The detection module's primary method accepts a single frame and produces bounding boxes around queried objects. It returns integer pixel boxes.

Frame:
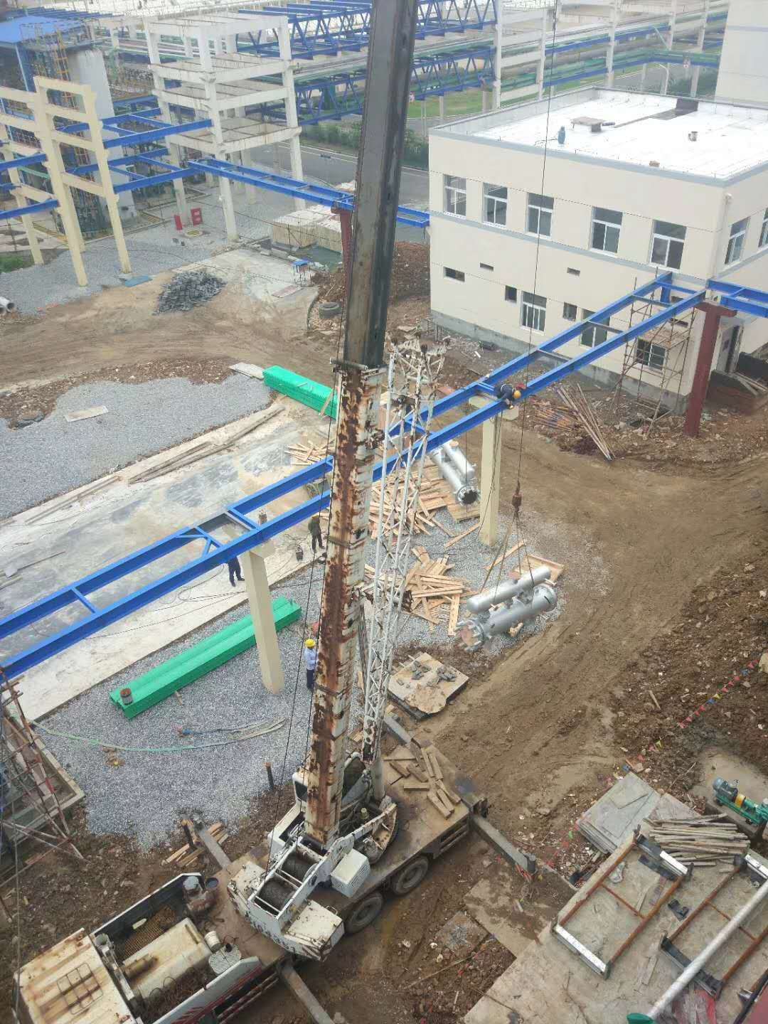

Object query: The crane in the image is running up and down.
[17,0,554,1024]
